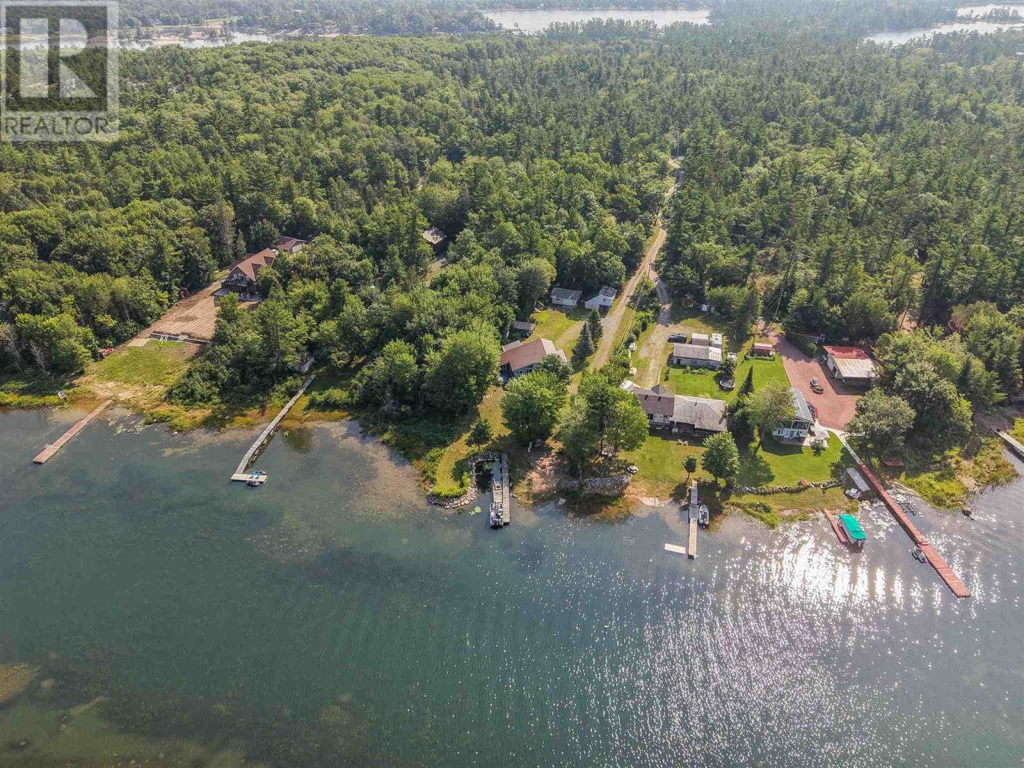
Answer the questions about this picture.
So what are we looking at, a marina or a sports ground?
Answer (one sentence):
This looks like a marina.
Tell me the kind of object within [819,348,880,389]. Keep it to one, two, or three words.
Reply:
building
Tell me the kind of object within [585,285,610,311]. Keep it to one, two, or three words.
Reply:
building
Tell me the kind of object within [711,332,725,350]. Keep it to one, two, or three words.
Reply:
vehicle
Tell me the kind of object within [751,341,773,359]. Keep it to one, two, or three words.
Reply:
shed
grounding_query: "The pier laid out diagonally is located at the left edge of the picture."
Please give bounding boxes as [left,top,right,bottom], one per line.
[33,401,113,462]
